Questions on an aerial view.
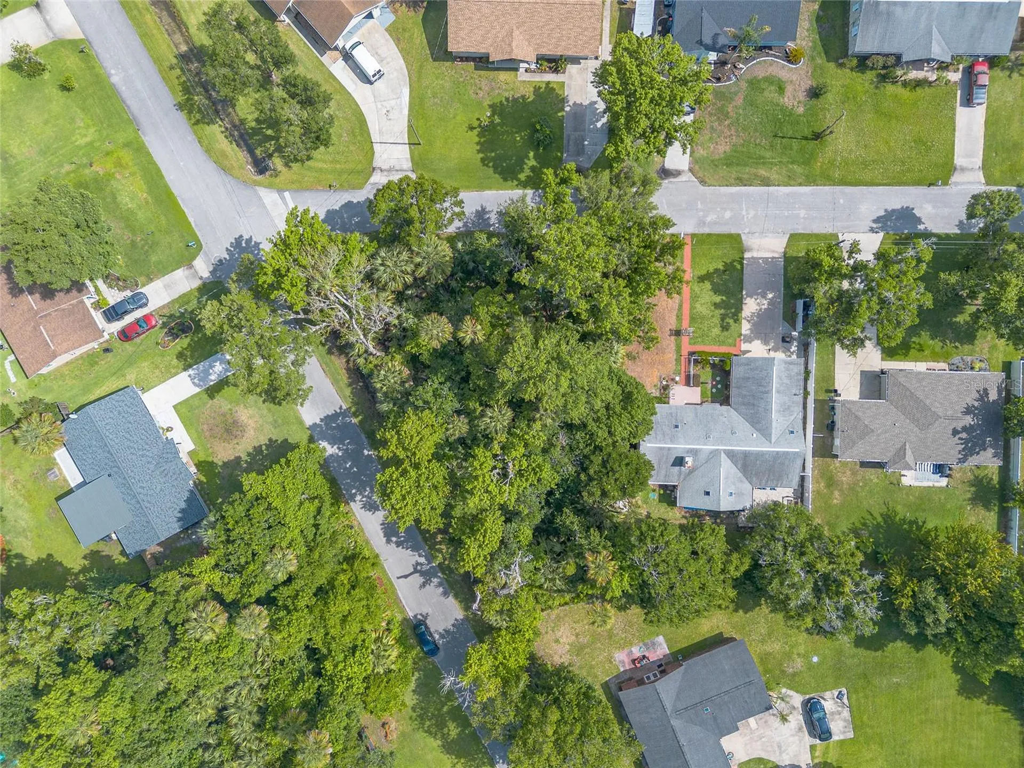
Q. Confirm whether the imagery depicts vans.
Yes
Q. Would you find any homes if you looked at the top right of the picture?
Yes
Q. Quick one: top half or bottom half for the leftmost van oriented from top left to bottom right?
top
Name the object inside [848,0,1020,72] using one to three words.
house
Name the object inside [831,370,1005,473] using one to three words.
house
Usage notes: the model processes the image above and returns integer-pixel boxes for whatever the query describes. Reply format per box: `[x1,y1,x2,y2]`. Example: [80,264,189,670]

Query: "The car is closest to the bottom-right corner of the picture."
[802,694,835,744]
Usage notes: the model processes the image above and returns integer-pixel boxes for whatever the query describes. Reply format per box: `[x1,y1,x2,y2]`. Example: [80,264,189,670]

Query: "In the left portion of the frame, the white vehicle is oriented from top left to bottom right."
[344,40,387,90]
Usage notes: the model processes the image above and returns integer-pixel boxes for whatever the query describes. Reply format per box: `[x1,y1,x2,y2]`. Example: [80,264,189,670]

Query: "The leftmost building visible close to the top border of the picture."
[265,0,385,64]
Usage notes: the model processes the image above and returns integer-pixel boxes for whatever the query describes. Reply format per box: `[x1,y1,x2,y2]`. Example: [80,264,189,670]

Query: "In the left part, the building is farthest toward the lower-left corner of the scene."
[58,385,212,558]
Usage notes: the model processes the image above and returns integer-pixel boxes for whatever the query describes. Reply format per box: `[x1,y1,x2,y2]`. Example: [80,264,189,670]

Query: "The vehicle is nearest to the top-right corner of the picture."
[964,61,992,108]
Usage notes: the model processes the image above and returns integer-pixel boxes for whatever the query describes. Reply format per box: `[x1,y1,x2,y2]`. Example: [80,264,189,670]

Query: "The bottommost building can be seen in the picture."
[619,636,772,768]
